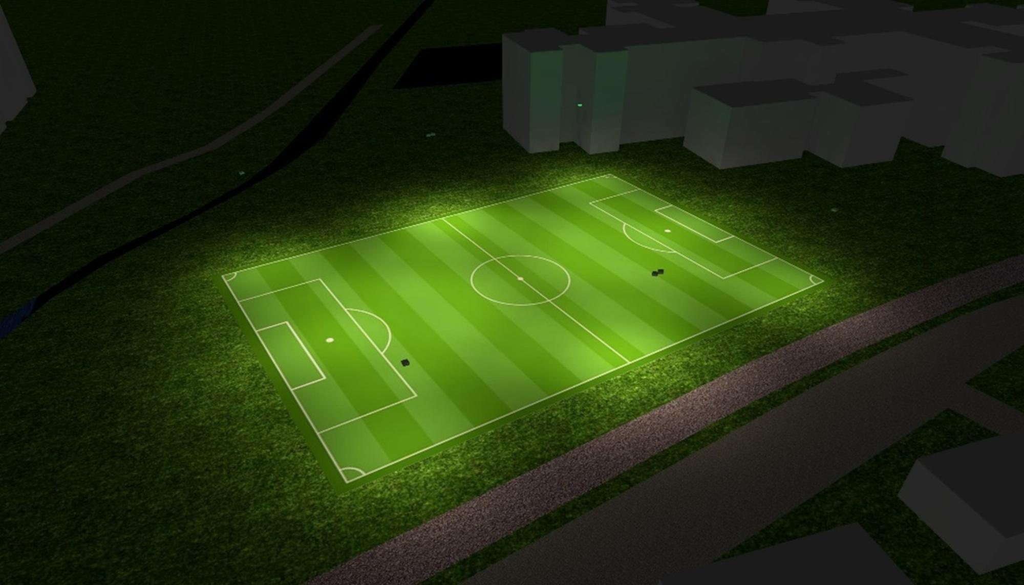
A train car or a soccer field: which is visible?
soccer field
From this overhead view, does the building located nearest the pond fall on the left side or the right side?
right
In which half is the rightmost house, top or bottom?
bottom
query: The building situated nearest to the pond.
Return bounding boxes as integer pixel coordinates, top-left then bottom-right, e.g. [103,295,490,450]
[503,0,1024,177]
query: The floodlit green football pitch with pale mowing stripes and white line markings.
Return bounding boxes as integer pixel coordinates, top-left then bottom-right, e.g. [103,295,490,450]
[212,172,834,495]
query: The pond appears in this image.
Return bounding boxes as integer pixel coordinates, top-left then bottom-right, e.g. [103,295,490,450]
[393,43,503,89]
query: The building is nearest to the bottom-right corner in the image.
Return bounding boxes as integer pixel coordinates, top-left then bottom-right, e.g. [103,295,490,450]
[900,428,1024,576]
